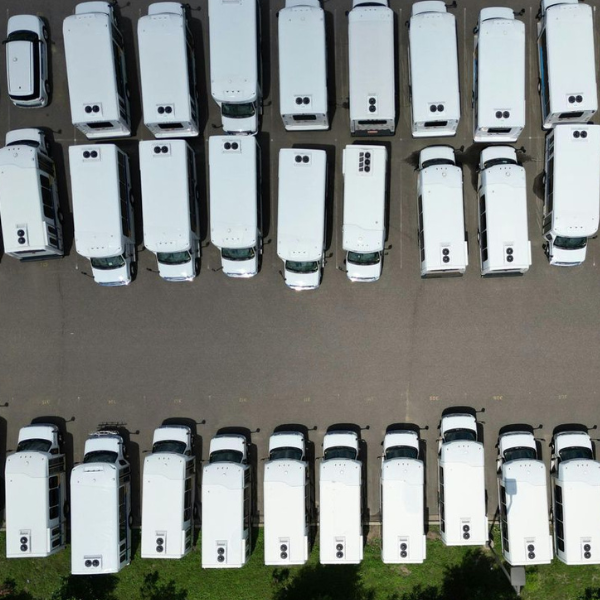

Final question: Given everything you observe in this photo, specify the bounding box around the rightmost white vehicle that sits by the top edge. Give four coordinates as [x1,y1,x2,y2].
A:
[536,0,597,133]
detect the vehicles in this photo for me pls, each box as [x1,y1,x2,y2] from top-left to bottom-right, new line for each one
[2,16,52,109]
[405,0,459,138]
[376,427,430,562]
[337,145,391,284]
[66,2,134,141]
[7,423,70,558]
[202,432,255,568]
[536,0,597,133]
[412,145,467,283]
[471,8,525,145]
[261,429,315,564]
[548,429,600,565]
[345,0,398,137]
[472,145,528,283]
[70,143,137,288]
[543,124,600,270]
[142,423,198,559]
[494,428,554,565]
[139,2,202,140]
[315,428,369,563]
[72,427,134,574]
[277,0,331,131]
[210,135,266,280]
[434,409,489,545]
[275,148,330,292]
[141,139,202,283]
[0,127,66,264]
[210,0,266,137]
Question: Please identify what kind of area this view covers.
parking lot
